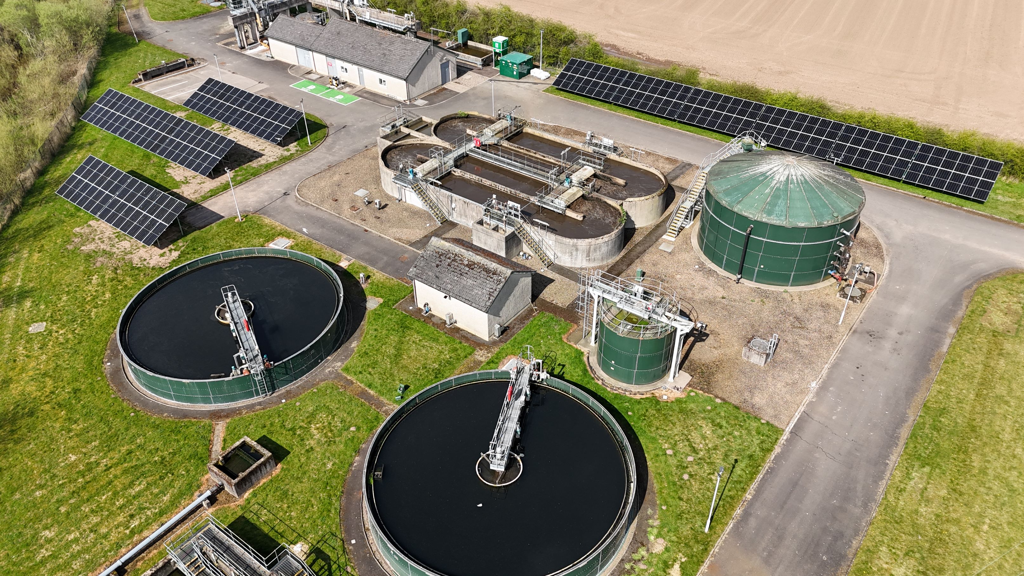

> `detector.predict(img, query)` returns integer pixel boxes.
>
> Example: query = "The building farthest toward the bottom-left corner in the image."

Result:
[408,236,538,341]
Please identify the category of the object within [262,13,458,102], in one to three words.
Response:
building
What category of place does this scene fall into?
industrial area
